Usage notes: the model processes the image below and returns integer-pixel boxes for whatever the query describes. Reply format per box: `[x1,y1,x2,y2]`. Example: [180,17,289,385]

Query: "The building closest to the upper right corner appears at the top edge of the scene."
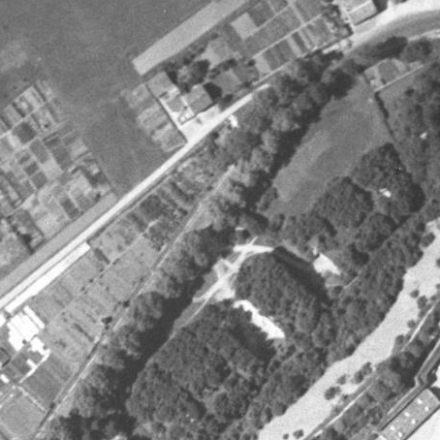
[340,0,377,25]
